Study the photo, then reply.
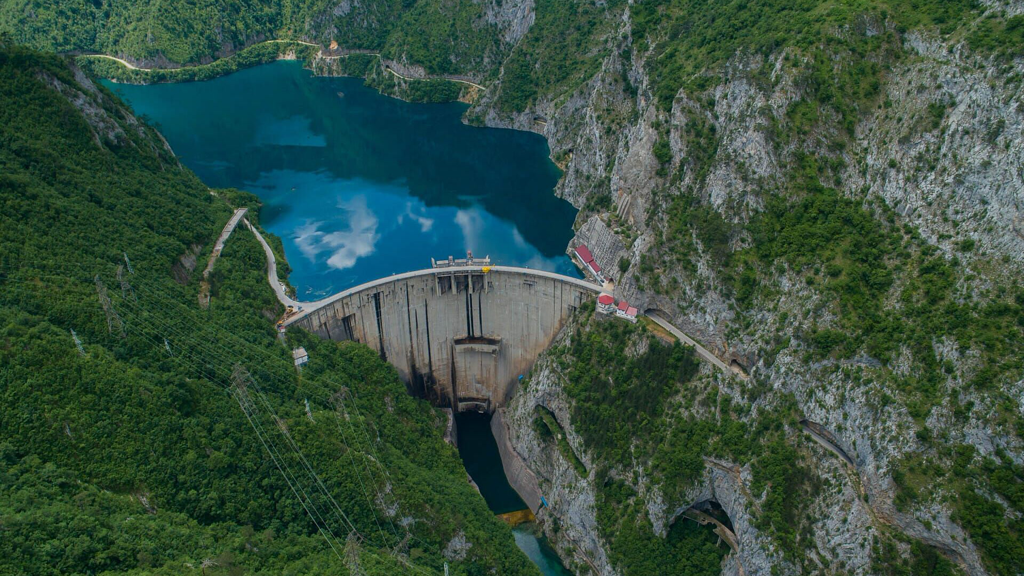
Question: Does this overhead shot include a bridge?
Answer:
Yes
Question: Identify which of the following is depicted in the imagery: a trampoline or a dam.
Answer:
dam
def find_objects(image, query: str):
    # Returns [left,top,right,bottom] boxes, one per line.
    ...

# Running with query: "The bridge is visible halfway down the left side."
[211,207,254,256]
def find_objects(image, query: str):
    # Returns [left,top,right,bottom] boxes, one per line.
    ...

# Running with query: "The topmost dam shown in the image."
[281,264,612,415]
